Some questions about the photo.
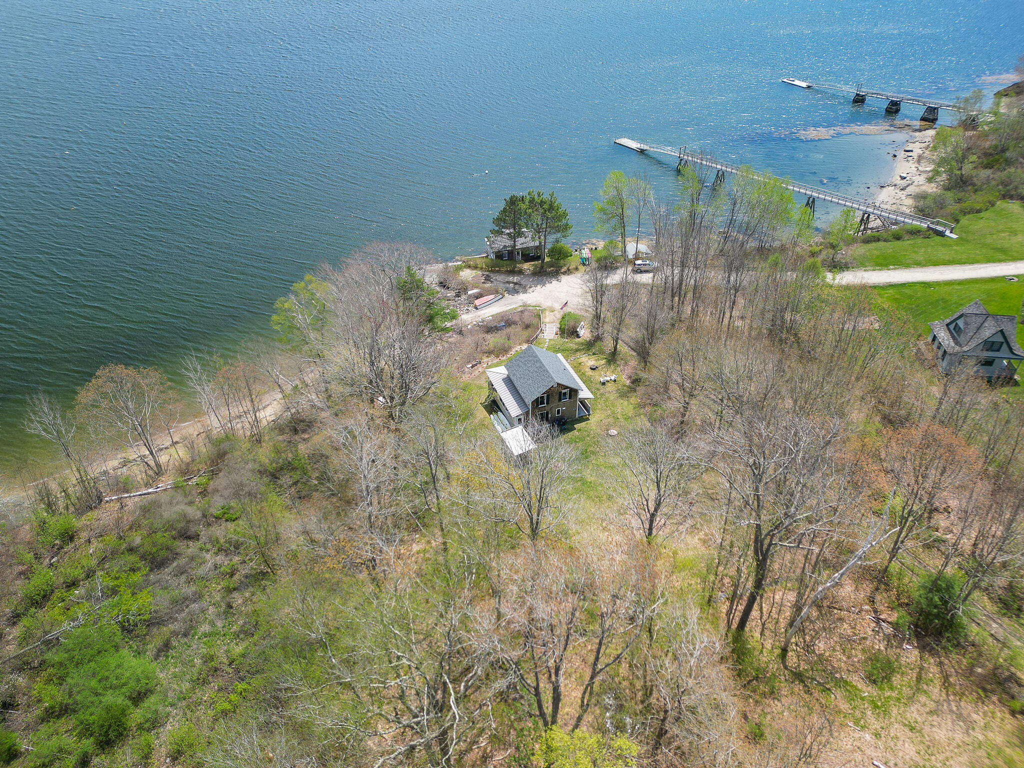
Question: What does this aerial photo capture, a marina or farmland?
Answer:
marina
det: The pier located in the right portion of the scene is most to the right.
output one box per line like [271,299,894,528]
[850,82,1017,122]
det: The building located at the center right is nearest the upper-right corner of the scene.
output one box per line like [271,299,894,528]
[925,299,1024,379]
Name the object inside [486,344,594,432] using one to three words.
house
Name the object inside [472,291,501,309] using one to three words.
boat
